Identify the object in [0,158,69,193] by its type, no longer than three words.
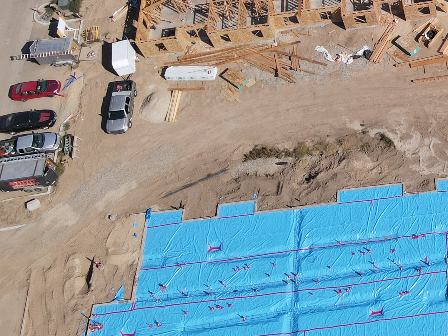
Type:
trailer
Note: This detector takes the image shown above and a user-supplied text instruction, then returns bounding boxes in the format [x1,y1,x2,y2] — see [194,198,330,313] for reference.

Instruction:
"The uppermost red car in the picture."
[7,77,63,104]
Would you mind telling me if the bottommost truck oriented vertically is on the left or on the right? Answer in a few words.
left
